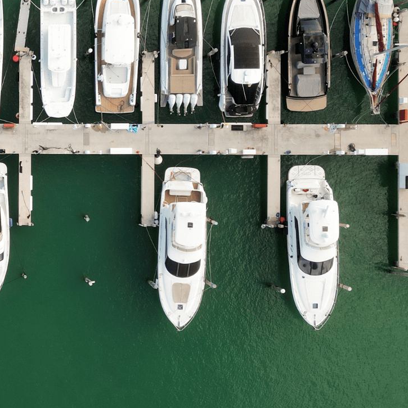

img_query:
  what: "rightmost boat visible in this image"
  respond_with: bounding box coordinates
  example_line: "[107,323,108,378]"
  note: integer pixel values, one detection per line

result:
[353,0,408,114]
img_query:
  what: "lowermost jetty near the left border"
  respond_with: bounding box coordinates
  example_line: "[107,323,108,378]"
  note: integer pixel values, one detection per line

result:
[16,154,35,226]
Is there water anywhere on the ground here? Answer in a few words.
Yes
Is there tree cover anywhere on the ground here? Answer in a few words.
No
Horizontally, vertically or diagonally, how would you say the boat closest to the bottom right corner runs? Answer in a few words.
vertically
